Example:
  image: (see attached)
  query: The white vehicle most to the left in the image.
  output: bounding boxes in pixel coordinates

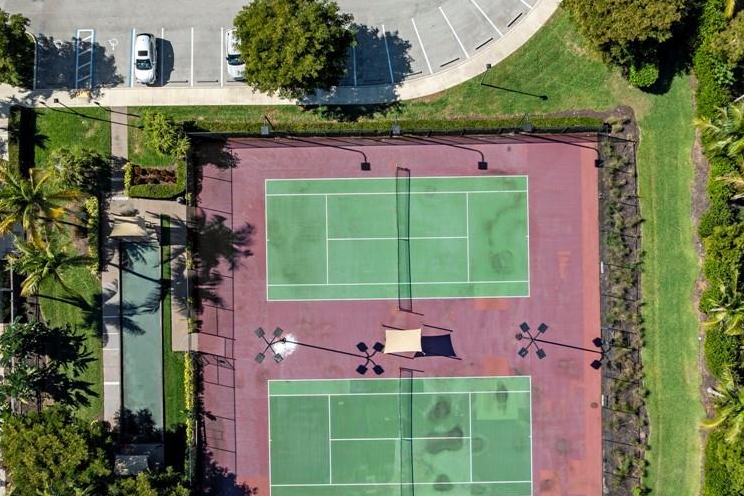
[131,32,158,86]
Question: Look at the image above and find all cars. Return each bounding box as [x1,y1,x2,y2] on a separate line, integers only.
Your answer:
[131,32,158,86]
[223,29,249,84]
